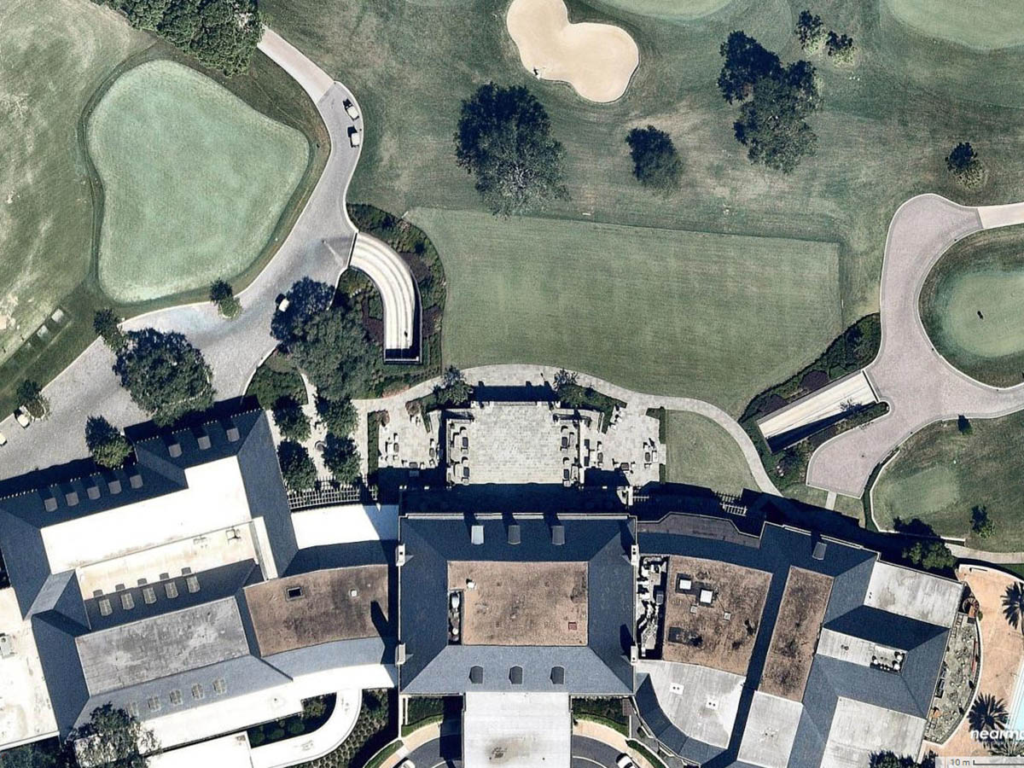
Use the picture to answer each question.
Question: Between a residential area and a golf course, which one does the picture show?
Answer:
golf course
